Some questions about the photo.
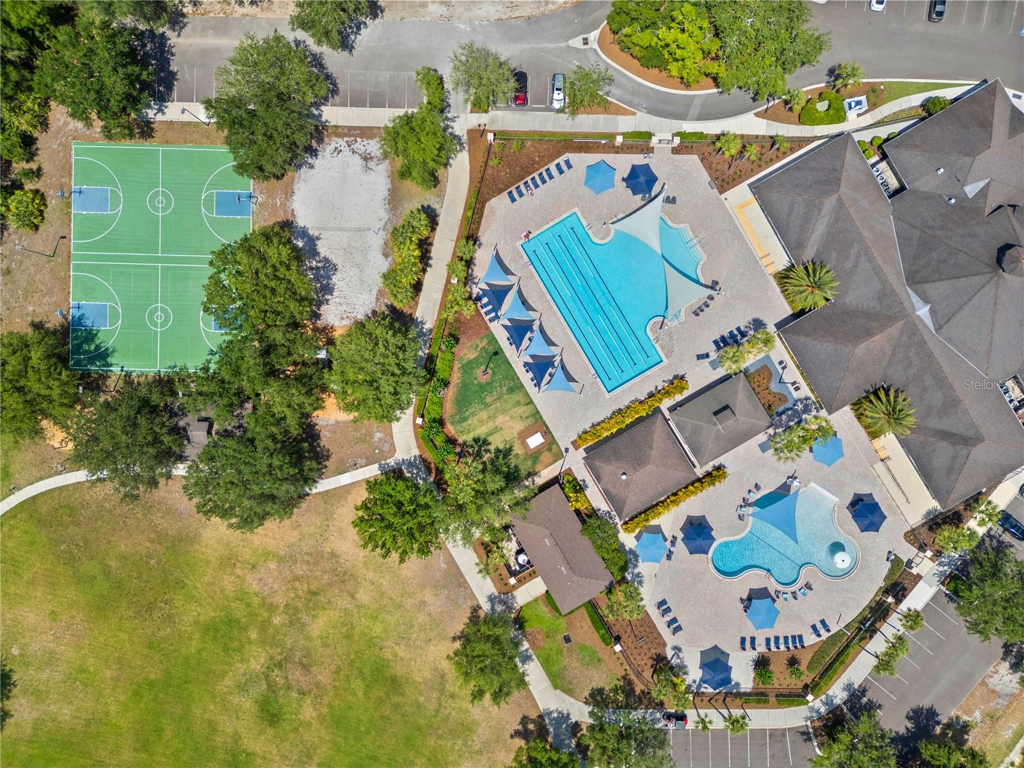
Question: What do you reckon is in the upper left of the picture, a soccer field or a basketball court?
basketball court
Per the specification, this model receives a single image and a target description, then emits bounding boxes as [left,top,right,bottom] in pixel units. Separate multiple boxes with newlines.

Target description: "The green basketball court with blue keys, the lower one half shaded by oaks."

[70,257,250,376]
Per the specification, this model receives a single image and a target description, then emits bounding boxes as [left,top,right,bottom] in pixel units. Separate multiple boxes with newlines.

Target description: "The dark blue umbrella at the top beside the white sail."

[625,166,657,195]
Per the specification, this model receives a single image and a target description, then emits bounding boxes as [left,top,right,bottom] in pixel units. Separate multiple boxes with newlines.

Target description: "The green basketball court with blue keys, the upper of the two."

[71,141,252,261]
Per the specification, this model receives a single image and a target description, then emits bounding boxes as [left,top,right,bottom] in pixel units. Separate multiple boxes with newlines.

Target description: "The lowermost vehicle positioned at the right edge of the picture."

[997,512,1024,539]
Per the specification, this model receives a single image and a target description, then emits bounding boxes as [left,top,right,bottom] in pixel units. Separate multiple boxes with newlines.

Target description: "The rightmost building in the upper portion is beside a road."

[750,77,1024,510]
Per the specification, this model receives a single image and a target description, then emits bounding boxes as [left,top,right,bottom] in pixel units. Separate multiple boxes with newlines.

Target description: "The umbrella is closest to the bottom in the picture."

[700,655,730,689]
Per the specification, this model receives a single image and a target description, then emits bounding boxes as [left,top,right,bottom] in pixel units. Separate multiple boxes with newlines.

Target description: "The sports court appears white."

[290,130,391,327]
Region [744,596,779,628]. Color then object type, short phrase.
blue umbrella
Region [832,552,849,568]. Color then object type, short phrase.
white fountain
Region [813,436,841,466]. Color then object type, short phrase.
blue umbrella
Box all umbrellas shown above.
[634,532,667,562]
[700,655,730,689]
[584,162,615,195]
[850,501,885,531]
[744,596,779,628]
[813,436,841,466]
[625,166,657,195]
[681,523,715,553]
